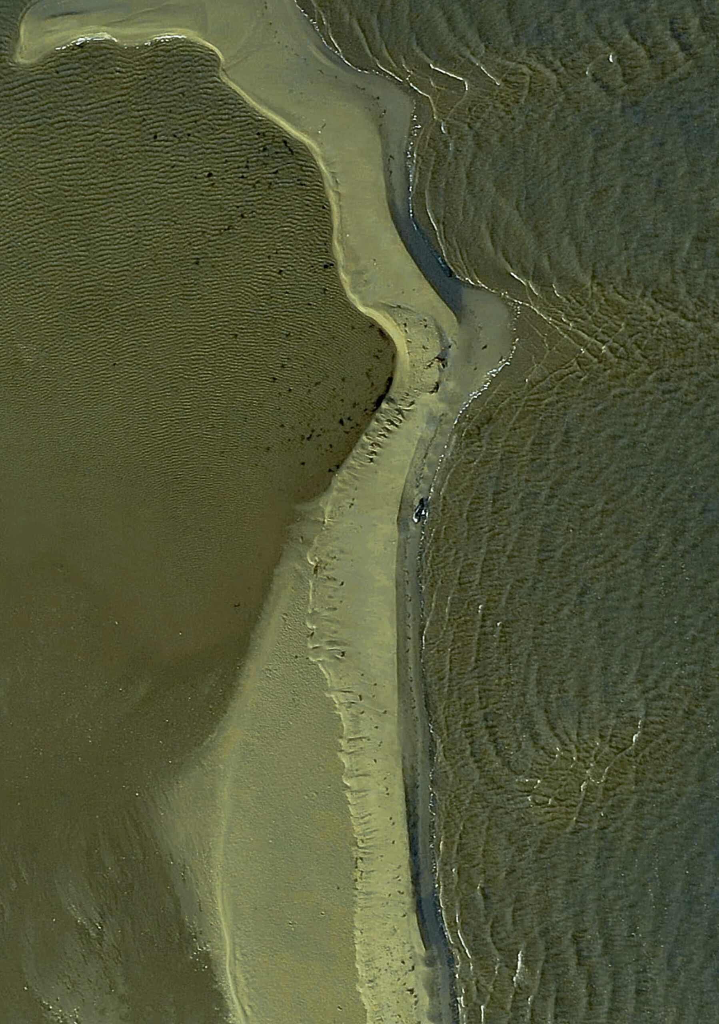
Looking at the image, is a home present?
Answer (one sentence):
No, there appears to be no home in this shot.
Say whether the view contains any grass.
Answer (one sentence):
No, the picture contains no grass.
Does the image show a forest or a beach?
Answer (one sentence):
The picture captures a beach.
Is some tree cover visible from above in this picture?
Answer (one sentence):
No, the scene doesn't show any tree cover.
